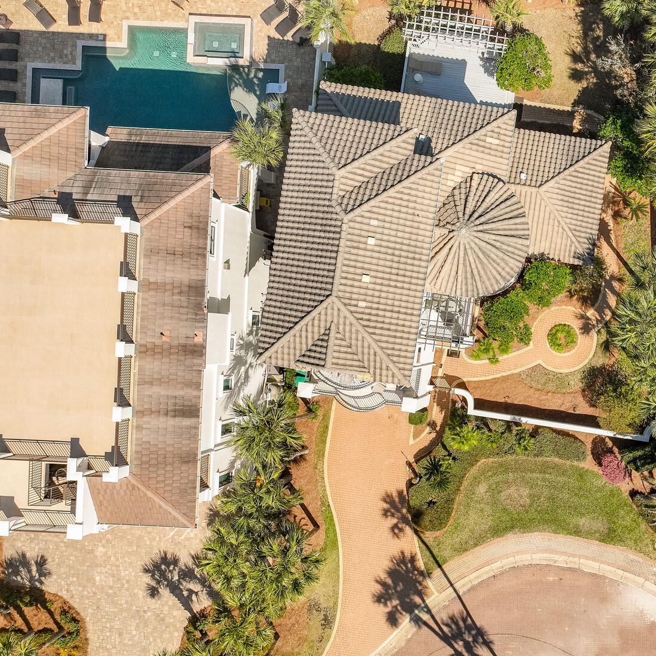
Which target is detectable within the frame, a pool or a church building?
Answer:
pool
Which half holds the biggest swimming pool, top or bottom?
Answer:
top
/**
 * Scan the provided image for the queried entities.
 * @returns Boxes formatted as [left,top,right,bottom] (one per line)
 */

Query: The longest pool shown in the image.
[26,20,283,147]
